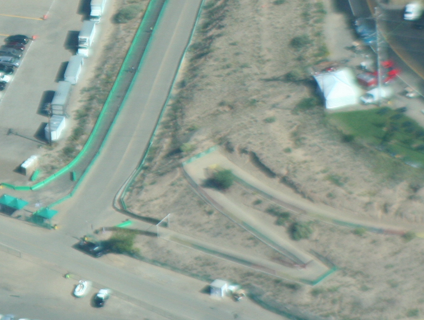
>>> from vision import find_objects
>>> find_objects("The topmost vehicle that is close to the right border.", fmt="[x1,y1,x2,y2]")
[404,2,417,20]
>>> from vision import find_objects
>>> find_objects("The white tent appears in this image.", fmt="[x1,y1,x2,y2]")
[315,70,360,118]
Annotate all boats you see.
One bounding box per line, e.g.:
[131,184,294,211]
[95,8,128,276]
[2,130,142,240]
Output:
[74,277,89,300]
